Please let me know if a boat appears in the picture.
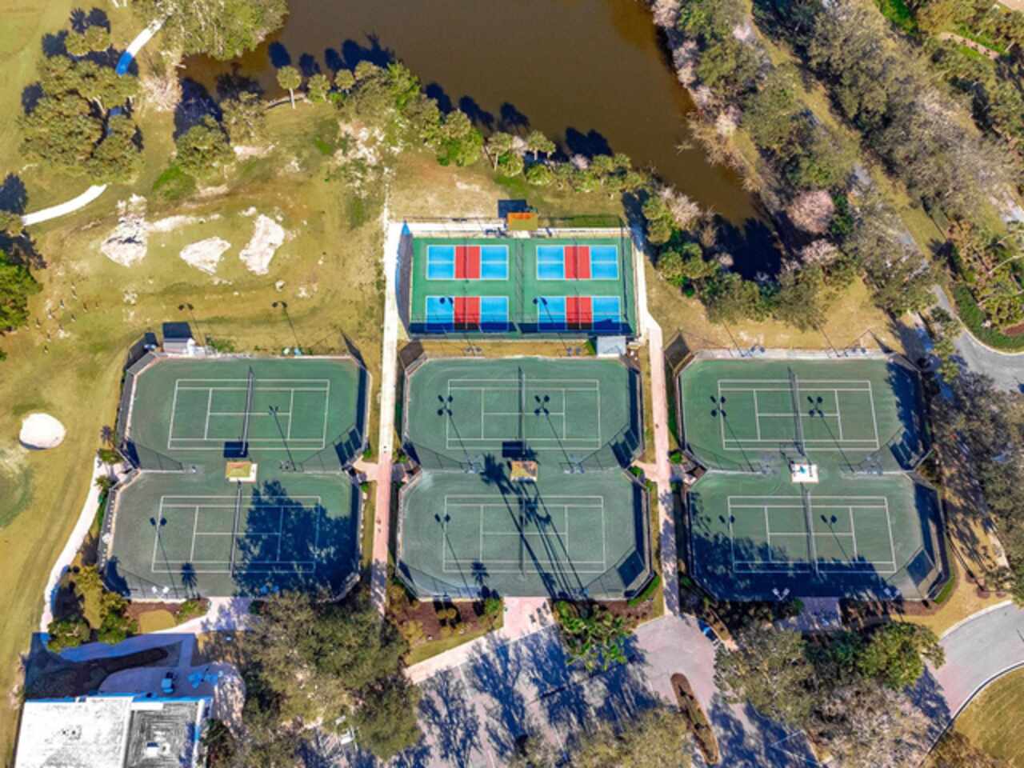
No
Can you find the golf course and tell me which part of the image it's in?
left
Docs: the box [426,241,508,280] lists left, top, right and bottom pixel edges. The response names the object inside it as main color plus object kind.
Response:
blue sports court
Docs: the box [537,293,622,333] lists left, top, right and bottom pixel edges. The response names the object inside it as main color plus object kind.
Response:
blue sports court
